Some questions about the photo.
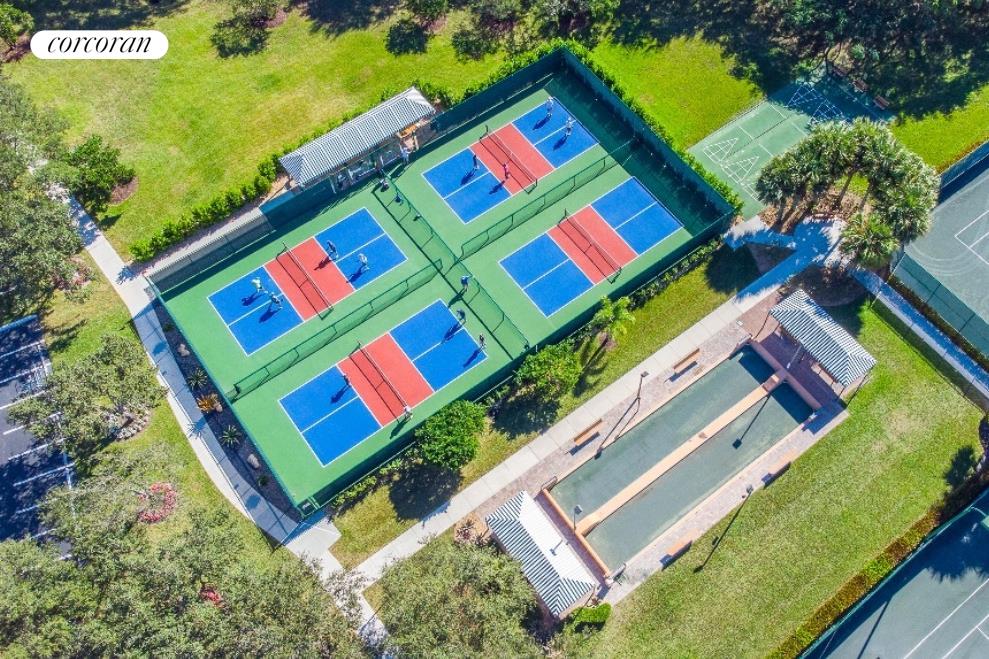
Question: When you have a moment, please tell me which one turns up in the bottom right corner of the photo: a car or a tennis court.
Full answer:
Visible in the bottom right corner of the photo is a tennis court.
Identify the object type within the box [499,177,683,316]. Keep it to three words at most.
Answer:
sports court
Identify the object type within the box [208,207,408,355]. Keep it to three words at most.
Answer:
sports court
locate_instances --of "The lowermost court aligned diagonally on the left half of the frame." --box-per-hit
[278,299,488,466]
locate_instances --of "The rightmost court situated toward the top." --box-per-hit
[889,157,989,363]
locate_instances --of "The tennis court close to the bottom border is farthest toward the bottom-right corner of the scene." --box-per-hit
[820,502,989,659]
